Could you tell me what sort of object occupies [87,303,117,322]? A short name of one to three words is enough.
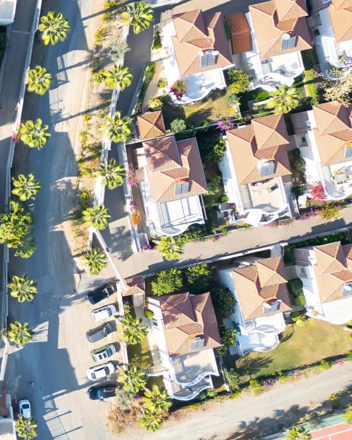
car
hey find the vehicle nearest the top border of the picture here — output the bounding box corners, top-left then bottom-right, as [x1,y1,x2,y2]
[84,283,114,303]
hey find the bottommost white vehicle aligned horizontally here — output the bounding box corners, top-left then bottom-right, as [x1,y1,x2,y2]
[83,362,115,380]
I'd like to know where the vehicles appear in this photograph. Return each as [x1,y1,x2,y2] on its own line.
[17,396,31,424]
[86,383,117,398]
[83,322,114,343]
[83,362,115,380]
[88,342,118,361]
[87,303,117,322]
[84,283,114,303]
